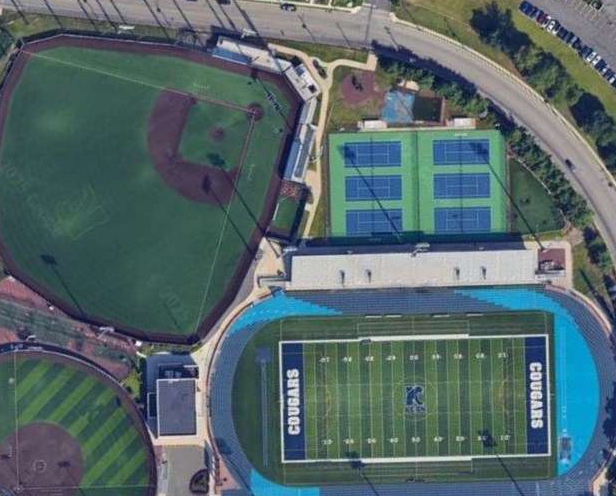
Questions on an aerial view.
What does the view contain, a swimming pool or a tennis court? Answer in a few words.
tennis court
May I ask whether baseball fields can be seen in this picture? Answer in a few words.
Yes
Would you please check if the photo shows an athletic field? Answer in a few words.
Yes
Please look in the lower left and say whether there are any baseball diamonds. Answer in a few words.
Yes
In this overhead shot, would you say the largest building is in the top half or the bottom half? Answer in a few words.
bottom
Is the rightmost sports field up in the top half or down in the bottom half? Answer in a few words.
bottom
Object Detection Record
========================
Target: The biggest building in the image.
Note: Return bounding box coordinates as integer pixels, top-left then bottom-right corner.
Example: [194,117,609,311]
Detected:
[147,364,199,438]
